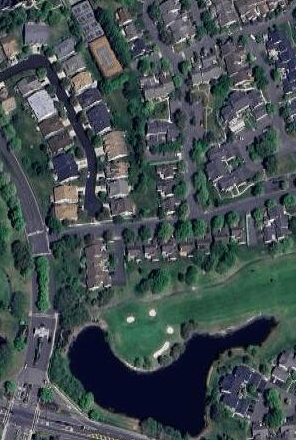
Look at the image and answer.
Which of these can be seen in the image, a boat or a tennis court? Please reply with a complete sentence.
There is a tennis court in the scene.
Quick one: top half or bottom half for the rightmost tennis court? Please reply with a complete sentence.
It is in the top half that the rightmost tennis court appears.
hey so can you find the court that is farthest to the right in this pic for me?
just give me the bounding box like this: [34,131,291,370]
[89,35,122,77]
